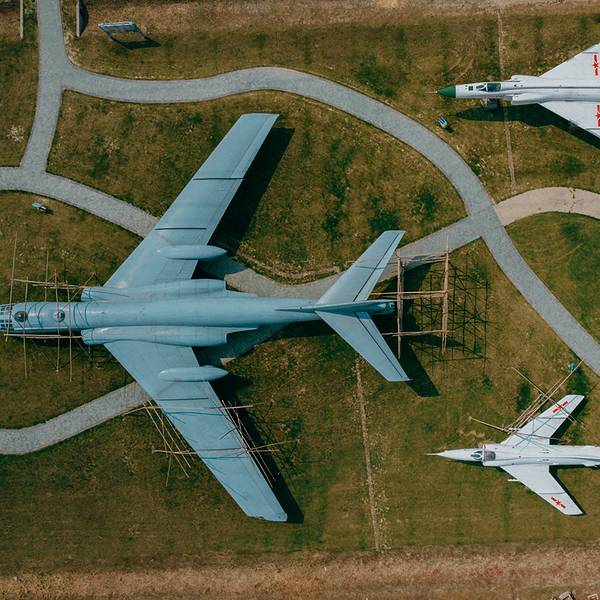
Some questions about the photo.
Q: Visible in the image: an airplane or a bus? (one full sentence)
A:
The one in the frame is an airplane.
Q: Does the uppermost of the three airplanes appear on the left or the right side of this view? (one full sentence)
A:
The uppermost of the three airplanes sits on the right side.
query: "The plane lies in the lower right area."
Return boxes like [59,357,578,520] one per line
[427,395,600,515]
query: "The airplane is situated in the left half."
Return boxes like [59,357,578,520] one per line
[0,113,411,521]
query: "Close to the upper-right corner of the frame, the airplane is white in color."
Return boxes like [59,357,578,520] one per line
[431,45,600,138]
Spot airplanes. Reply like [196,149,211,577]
[0,113,411,521]
[431,45,600,138]
[427,395,600,515]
